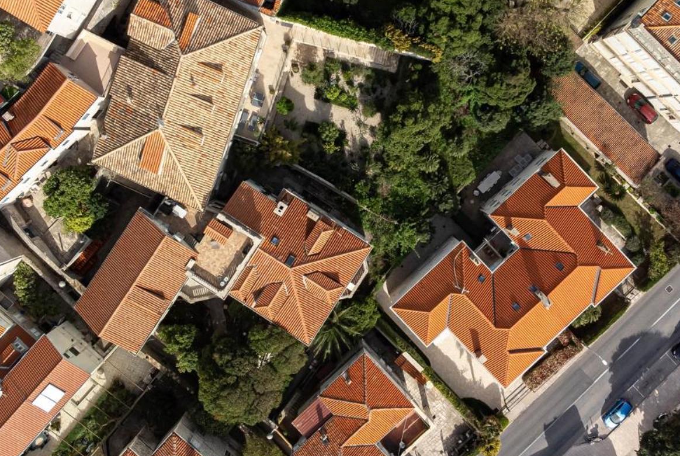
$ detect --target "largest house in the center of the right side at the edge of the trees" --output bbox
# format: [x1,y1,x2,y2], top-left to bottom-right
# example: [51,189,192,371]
[389,147,637,388]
